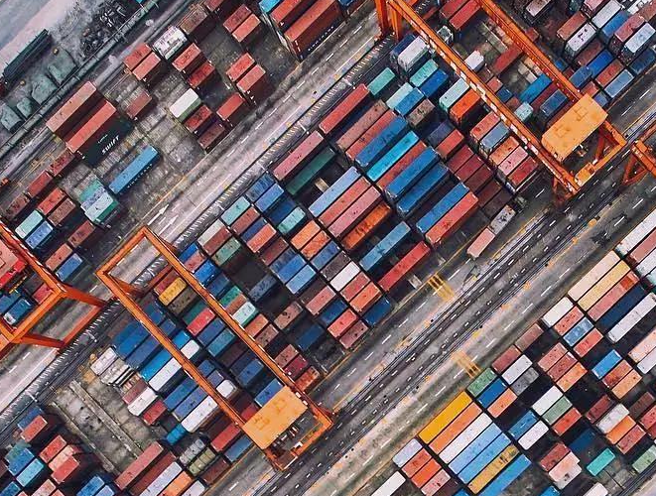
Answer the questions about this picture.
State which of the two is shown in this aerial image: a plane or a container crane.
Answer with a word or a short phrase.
container crane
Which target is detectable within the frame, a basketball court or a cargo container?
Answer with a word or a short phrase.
cargo container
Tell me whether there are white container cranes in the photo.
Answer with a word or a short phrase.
No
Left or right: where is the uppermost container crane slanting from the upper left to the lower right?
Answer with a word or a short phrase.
right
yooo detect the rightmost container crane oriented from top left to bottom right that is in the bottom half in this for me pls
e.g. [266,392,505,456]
[93,225,341,474]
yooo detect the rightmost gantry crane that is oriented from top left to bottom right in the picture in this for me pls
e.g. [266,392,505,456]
[385,0,628,217]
